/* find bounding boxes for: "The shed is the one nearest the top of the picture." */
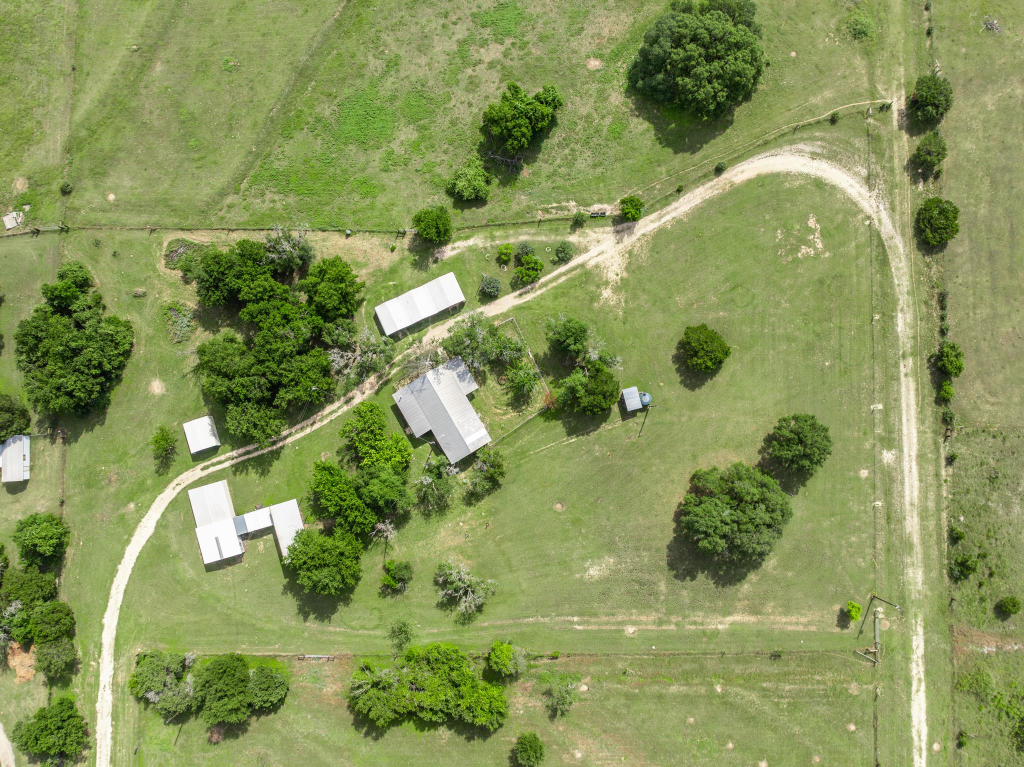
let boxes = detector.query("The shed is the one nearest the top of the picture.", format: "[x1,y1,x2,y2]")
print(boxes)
[375,272,465,335]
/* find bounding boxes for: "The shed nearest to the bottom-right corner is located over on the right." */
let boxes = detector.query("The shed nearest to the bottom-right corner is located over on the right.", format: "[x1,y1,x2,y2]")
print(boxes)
[622,386,642,411]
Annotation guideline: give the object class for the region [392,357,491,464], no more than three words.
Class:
house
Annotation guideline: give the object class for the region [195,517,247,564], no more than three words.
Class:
barn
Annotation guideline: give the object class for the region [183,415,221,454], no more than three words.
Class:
shed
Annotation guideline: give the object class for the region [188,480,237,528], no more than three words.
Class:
barn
